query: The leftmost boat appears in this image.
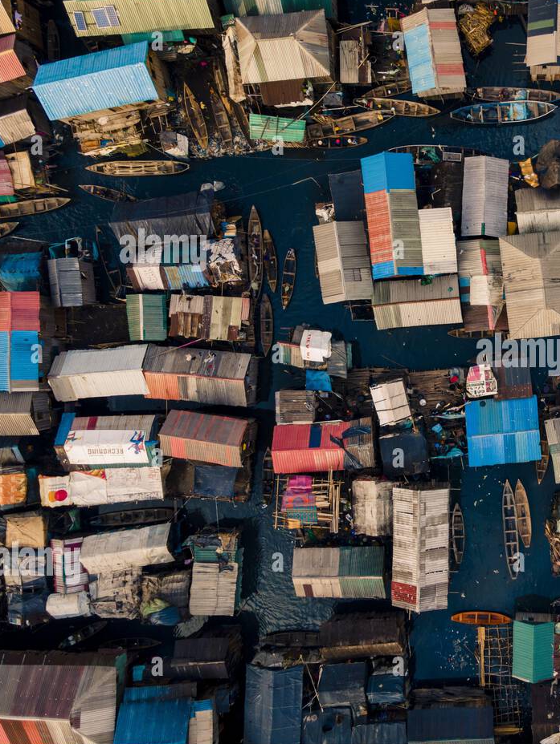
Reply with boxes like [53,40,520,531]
[0,222,21,240]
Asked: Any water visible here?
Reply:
Yes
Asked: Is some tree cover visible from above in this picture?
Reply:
No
